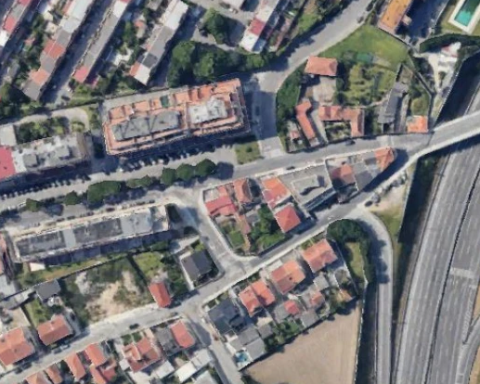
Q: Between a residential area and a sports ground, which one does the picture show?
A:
residential area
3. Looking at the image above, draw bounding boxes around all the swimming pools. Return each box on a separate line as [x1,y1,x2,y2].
[236,350,250,364]
[446,0,480,31]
